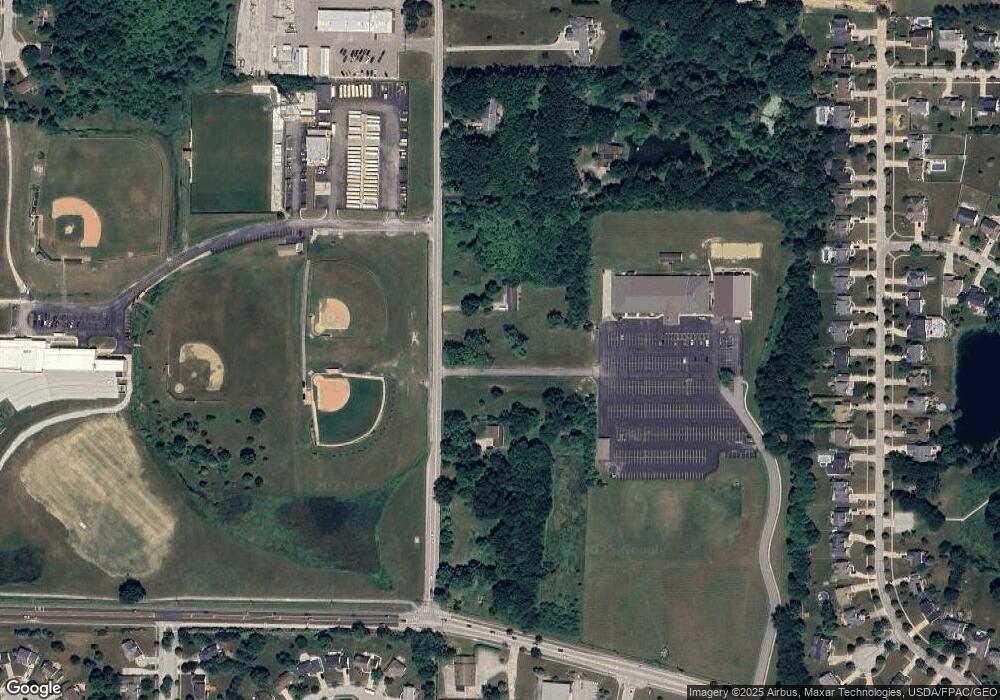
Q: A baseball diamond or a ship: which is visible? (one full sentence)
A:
Looking from above, you can make out a baseball diamond.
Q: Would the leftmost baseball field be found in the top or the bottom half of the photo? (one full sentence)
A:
The top half of the photo is where the leftmost baseball field is.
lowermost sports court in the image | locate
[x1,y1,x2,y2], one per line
[702,238,762,260]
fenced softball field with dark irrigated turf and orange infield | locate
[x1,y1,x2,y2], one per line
[305,369,386,446]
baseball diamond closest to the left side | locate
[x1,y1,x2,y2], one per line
[37,197,161,280]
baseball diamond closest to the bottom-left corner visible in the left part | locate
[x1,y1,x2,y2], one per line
[165,334,224,401]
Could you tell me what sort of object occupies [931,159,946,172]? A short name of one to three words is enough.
swimming pool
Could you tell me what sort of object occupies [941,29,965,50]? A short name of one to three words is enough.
house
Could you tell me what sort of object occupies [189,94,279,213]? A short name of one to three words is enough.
sports field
